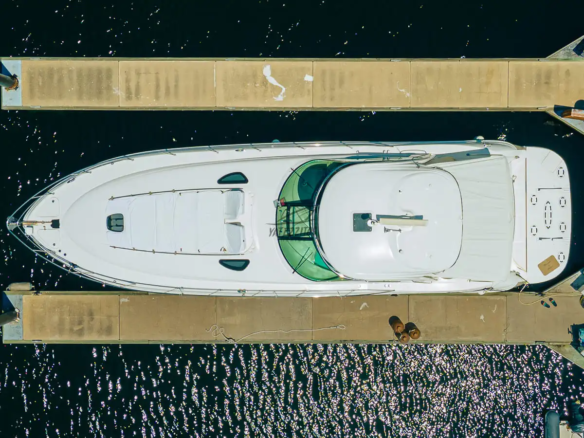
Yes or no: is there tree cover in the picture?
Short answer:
No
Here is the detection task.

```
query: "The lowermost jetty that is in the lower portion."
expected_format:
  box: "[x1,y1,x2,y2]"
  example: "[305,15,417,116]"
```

[3,267,584,368]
